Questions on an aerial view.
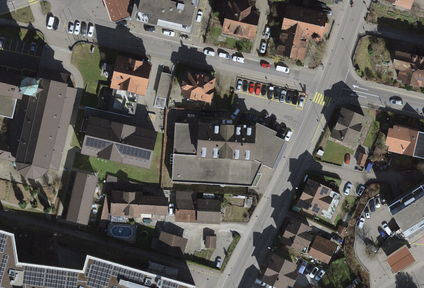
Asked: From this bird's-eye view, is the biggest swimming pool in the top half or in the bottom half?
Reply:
bottom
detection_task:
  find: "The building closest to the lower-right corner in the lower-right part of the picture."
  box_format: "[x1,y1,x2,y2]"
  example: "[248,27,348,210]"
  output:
[388,246,417,275]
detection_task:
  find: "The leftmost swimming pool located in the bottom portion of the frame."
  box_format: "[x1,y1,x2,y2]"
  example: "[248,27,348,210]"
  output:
[108,224,137,244]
